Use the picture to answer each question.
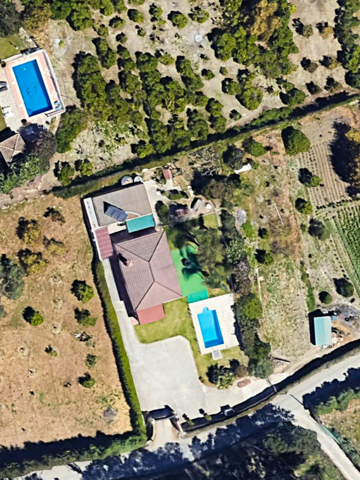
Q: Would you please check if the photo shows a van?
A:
No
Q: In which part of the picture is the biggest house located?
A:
center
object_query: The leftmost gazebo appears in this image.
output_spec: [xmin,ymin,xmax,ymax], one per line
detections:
[0,134,26,166]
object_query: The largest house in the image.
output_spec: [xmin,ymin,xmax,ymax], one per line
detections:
[115,230,183,324]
